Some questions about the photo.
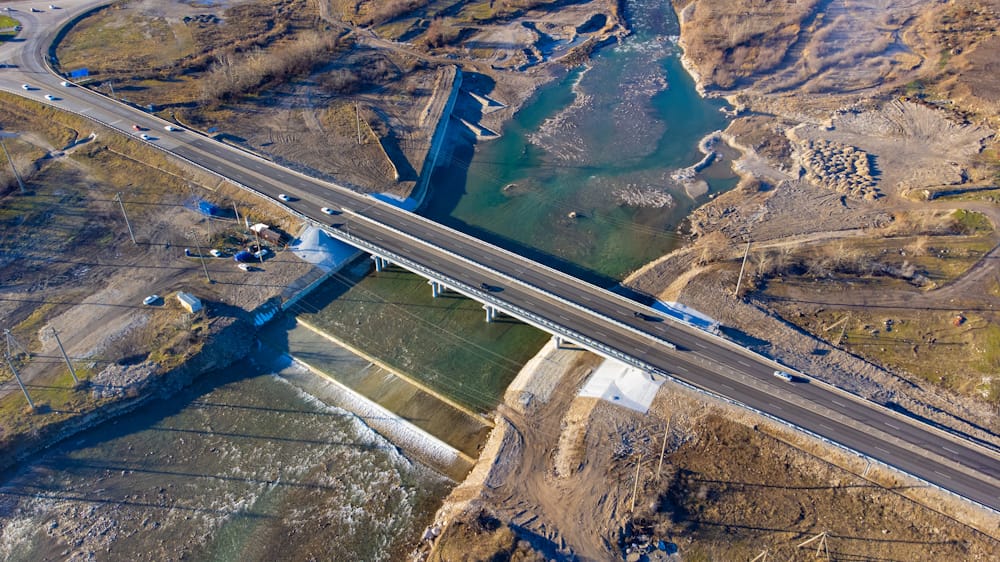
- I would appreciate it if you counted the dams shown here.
2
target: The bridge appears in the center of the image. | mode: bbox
[317,195,687,370]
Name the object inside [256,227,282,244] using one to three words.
building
